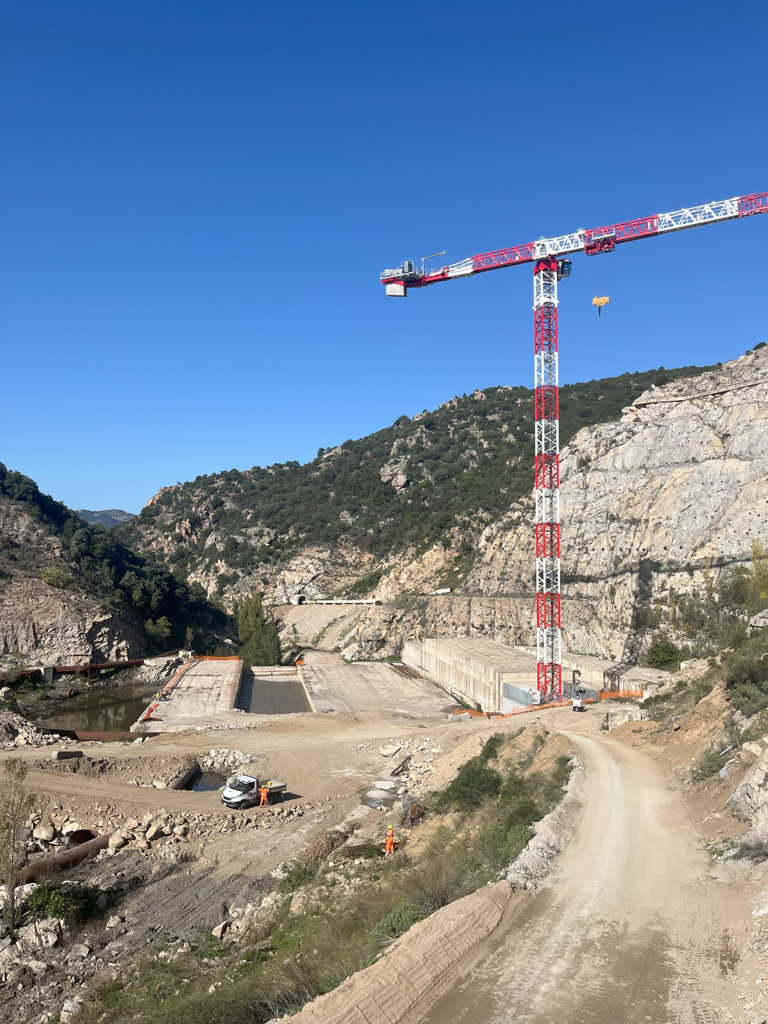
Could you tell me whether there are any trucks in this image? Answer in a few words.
Yes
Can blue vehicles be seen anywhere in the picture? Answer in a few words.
No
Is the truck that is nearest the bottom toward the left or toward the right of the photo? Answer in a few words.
left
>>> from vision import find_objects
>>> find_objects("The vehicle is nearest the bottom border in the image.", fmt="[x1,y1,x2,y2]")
[219,773,285,809]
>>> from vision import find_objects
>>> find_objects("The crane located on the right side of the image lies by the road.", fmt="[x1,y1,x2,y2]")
[377,189,768,700]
